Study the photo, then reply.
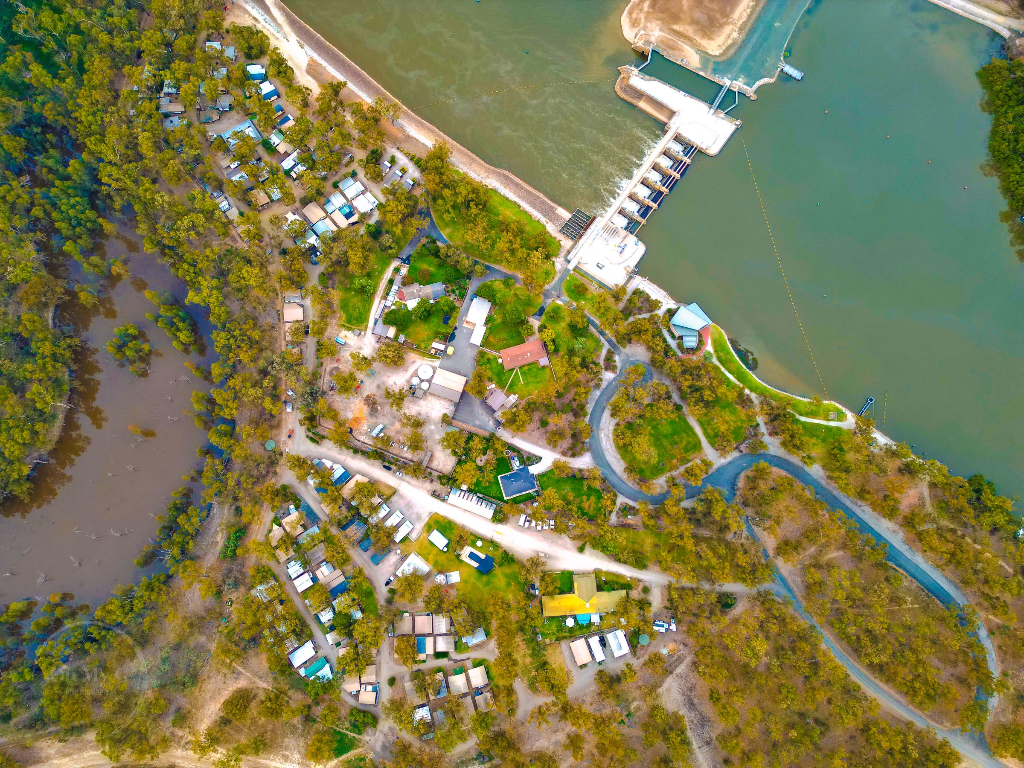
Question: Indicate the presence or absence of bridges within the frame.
Yes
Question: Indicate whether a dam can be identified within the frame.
Yes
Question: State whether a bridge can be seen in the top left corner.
No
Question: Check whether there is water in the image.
Yes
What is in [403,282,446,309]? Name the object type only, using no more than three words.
house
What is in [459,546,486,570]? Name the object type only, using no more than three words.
swimming pool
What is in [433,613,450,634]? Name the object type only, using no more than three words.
building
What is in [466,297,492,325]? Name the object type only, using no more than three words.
shed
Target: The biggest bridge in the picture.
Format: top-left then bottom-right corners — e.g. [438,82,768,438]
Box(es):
[566,123,679,272]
